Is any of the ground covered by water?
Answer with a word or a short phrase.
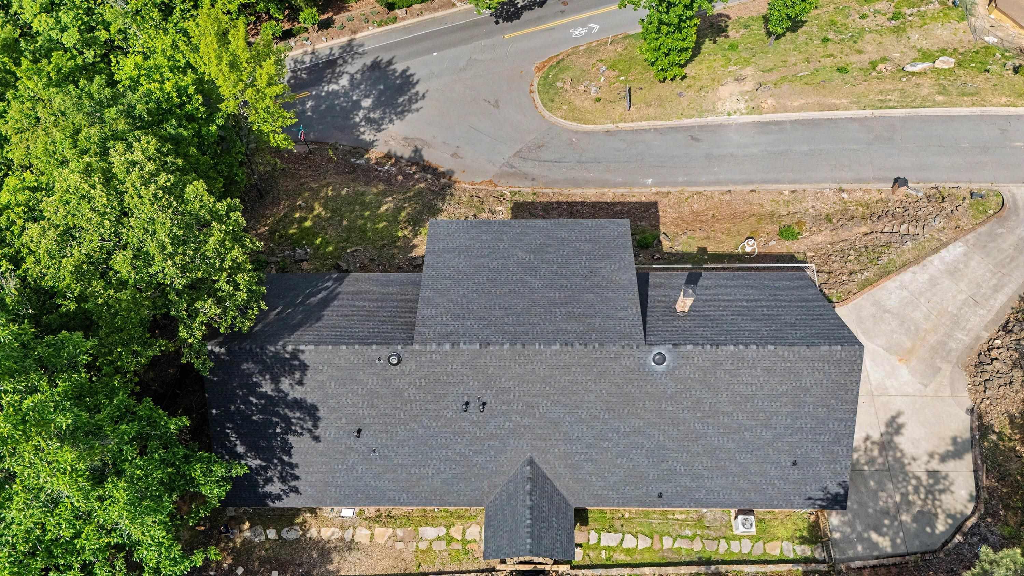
No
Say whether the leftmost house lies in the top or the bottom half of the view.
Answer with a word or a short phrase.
bottom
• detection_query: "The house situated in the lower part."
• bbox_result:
[201,220,865,560]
